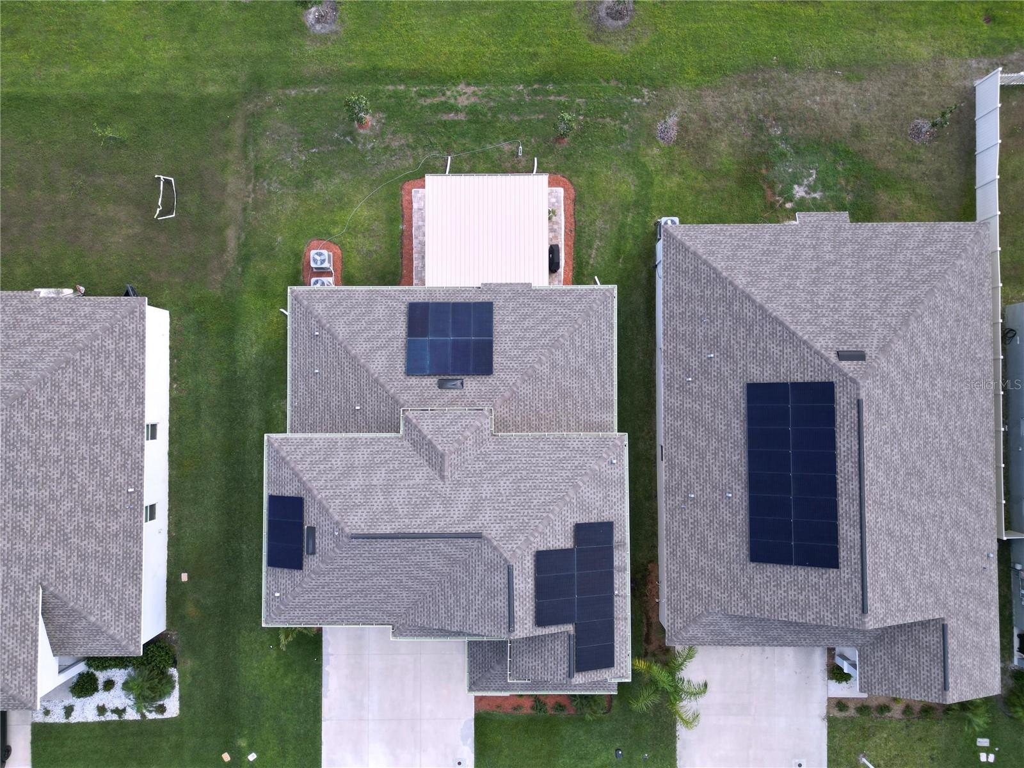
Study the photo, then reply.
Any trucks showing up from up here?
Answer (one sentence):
No, I can't see a single truck in this photo.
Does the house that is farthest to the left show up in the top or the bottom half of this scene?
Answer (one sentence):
The bottom half of the photo is where the house that is farthest to the left is.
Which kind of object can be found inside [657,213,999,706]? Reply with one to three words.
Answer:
house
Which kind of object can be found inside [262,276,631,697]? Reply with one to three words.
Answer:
house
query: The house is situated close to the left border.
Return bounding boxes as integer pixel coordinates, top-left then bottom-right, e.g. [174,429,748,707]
[0,291,169,711]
